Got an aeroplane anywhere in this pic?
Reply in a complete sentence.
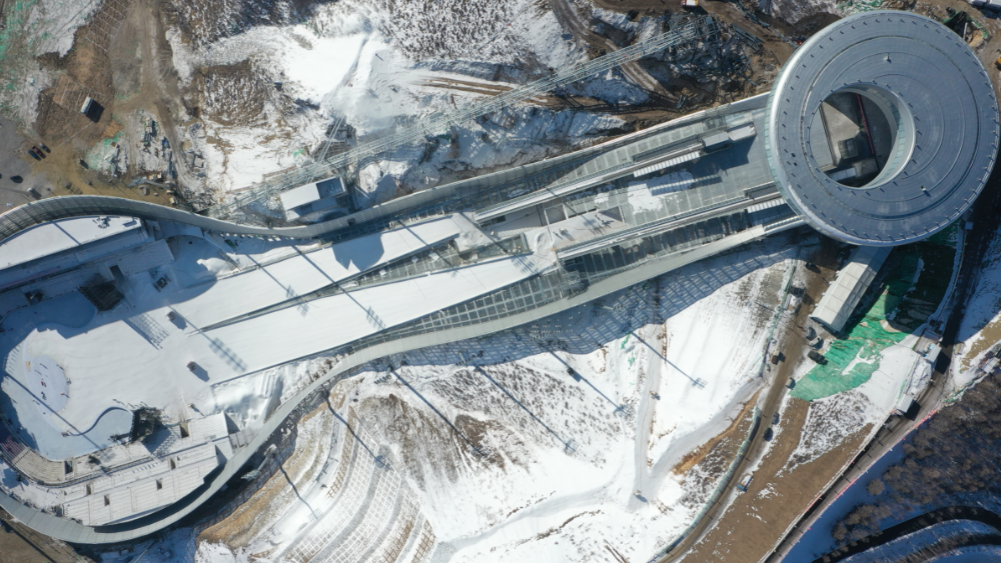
No, I can see no aeroplane in this picture.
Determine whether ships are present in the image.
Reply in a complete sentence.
No, this view has no ship in it.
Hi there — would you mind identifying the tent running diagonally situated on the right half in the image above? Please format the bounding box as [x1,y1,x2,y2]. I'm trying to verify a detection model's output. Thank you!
[817,244,898,331]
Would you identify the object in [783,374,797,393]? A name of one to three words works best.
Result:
vehicle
